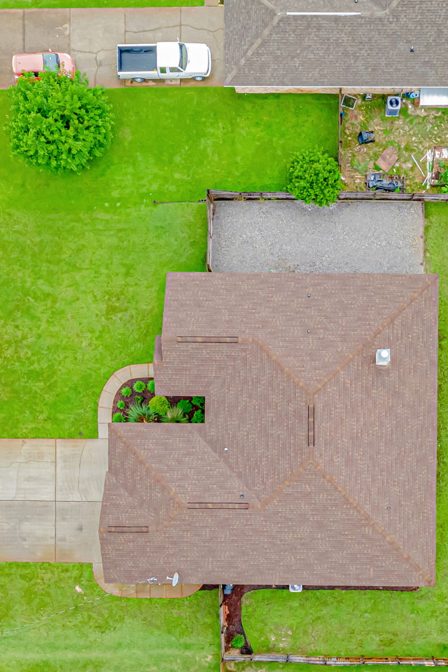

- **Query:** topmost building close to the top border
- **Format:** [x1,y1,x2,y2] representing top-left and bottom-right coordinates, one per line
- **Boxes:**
[222,0,448,95]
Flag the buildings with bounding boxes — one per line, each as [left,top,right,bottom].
[99,272,439,587]
[222,0,448,95]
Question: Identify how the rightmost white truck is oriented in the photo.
from left to right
